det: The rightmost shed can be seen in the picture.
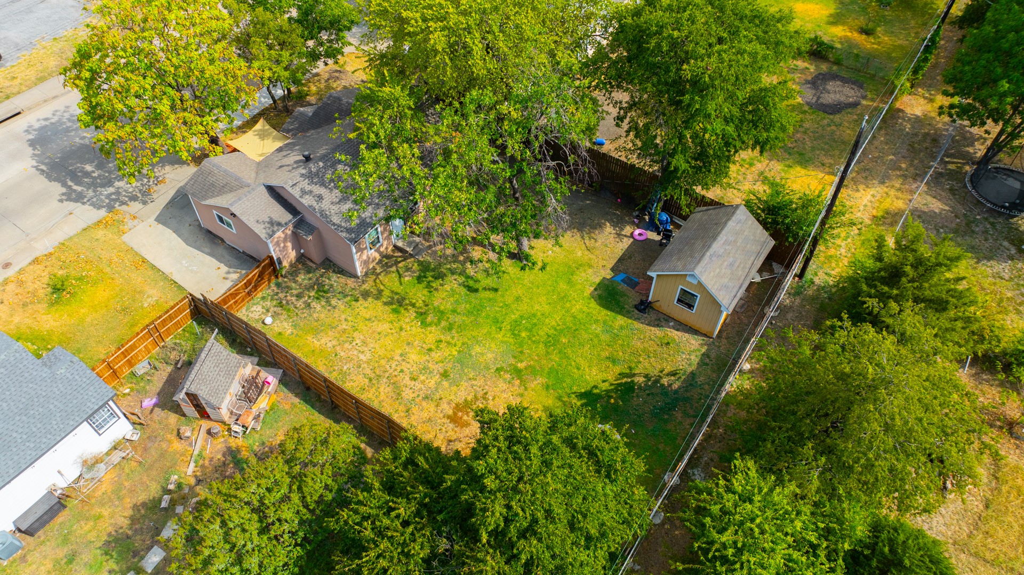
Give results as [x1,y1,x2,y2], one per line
[642,202,777,337]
